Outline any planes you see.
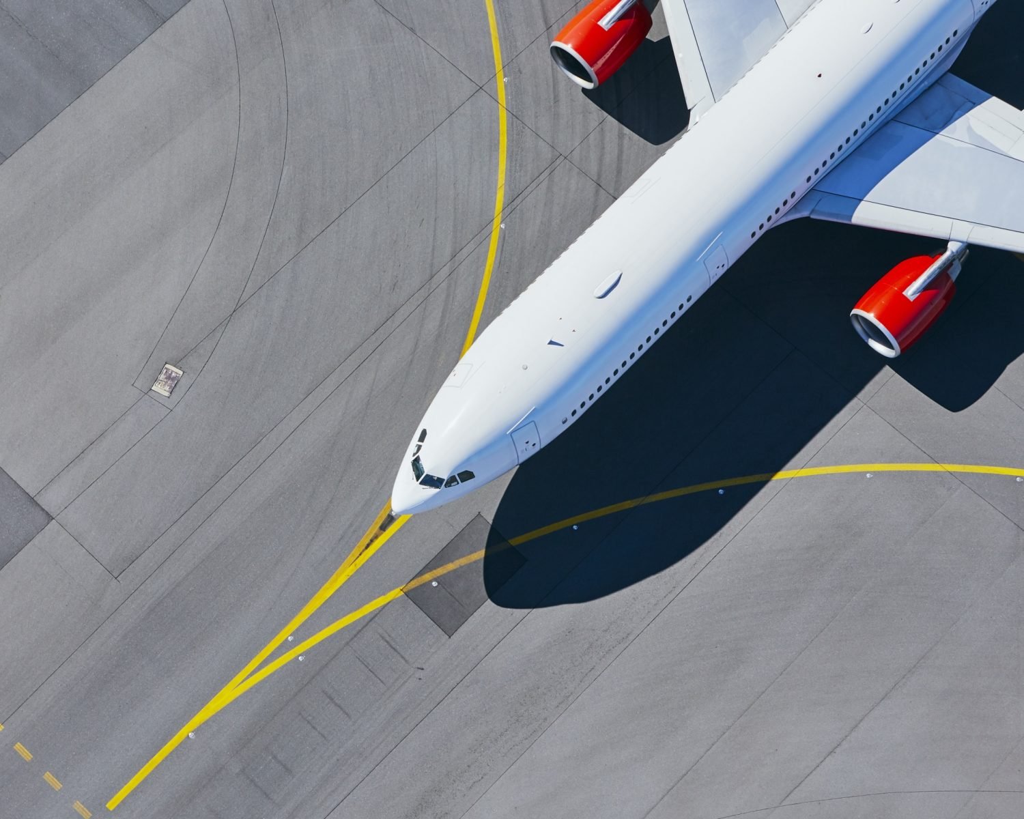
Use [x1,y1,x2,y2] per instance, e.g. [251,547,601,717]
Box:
[391,0,1024,515]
